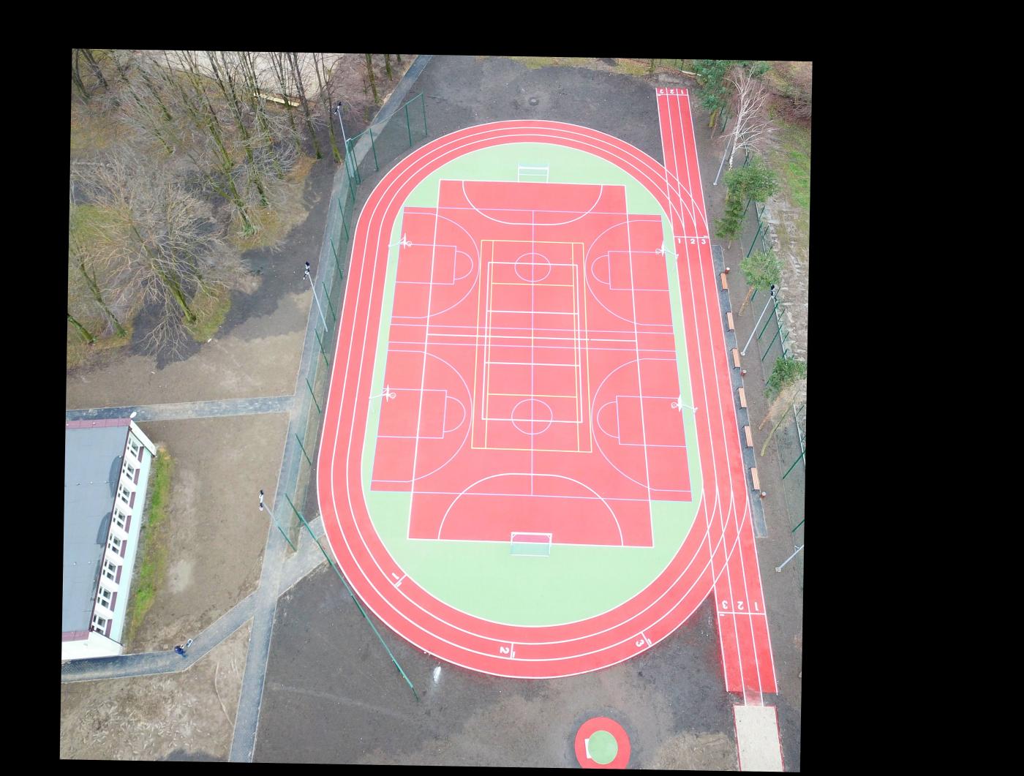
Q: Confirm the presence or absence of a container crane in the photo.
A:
No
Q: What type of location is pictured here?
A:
sports ground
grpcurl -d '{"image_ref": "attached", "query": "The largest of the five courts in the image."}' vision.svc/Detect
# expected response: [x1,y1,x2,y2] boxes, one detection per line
[407,179,654,547]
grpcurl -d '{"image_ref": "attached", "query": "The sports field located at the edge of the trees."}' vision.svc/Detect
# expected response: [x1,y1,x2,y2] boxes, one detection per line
[362,143,702,625]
